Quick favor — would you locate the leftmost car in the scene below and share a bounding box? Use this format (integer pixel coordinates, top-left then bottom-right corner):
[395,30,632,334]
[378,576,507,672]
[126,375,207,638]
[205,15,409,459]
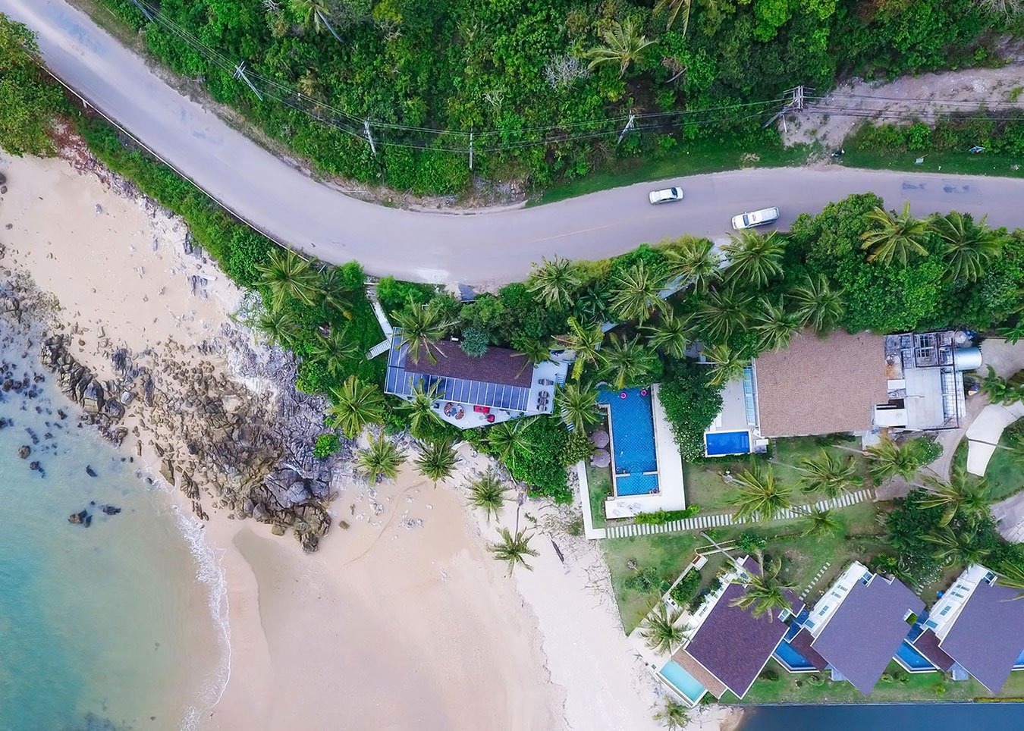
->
[646,185,685,206]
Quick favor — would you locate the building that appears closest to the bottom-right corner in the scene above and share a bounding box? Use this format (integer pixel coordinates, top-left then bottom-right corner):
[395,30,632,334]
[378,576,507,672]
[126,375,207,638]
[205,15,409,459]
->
[906,562,1024,698]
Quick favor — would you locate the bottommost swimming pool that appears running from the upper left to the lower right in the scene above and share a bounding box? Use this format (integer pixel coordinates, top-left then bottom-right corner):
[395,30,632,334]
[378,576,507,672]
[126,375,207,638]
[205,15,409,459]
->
[657,656,708,707]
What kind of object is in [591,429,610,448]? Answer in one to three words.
umbrella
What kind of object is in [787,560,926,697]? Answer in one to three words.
house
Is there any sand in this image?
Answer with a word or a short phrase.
Yes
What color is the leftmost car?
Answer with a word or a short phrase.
white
